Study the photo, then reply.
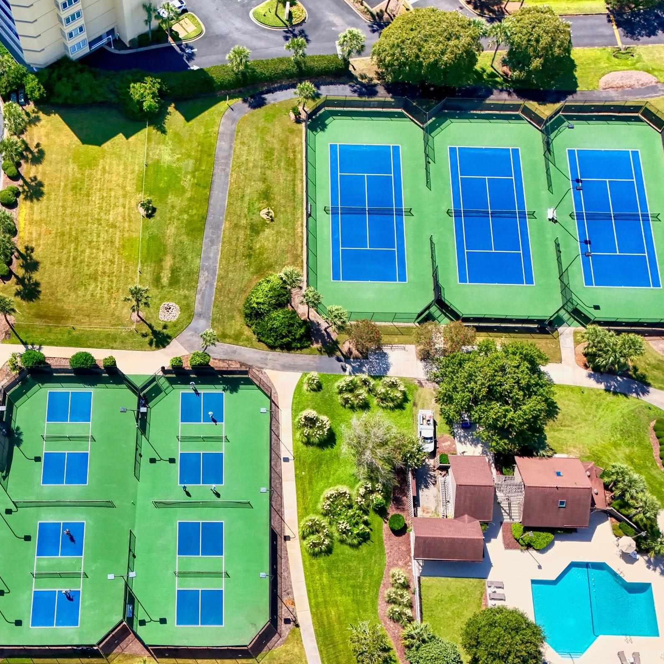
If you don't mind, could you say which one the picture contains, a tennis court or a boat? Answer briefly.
tennis court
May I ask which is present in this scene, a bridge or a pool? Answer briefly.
pool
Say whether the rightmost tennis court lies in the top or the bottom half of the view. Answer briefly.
top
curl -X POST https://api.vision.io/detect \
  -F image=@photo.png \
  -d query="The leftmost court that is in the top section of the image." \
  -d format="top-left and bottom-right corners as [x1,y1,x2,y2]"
[307,109,438,323]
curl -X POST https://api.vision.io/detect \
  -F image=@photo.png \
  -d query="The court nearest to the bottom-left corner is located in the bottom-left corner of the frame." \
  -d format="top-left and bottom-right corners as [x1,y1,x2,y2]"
[0,501,133,646]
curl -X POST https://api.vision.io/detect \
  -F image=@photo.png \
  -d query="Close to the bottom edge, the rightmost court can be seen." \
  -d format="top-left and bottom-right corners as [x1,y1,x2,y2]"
[123,501,270,647]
